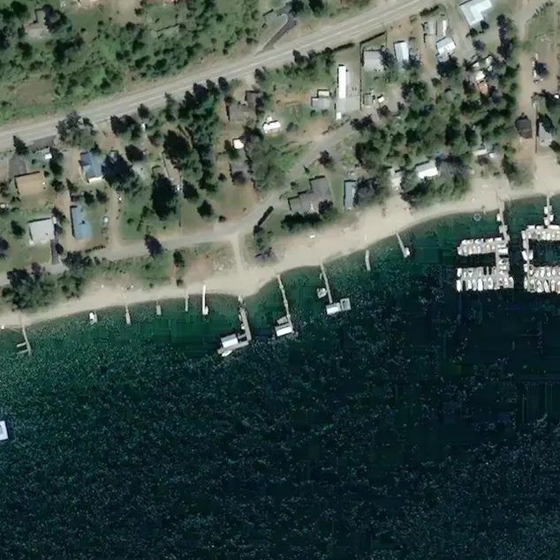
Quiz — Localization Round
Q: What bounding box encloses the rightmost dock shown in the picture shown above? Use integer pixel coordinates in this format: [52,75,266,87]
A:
[524,194,560,294]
